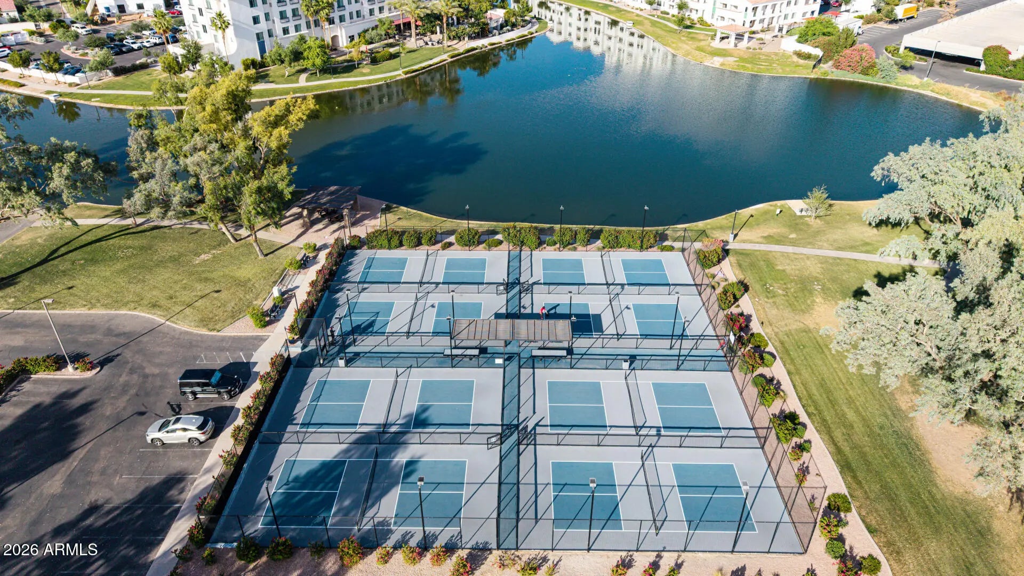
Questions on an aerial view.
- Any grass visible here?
Yes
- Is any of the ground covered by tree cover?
Yes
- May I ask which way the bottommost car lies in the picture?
from side to side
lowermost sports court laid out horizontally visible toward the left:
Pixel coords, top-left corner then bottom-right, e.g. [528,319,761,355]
[259,459,467,528]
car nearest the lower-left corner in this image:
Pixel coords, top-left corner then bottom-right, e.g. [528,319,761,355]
[145,411,219,443]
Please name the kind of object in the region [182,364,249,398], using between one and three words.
car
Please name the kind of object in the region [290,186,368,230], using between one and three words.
building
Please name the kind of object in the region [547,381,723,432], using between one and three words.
sports court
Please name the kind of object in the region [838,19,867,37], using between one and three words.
vehicle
